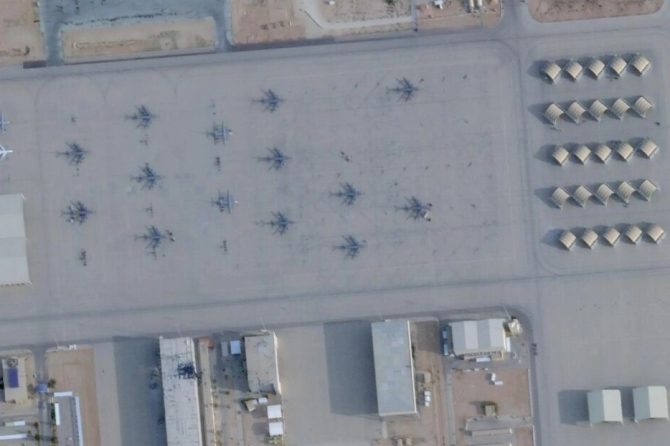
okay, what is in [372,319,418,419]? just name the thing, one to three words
hangar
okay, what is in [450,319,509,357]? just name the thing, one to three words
building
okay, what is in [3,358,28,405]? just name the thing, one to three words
house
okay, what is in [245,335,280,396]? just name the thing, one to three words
hangar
